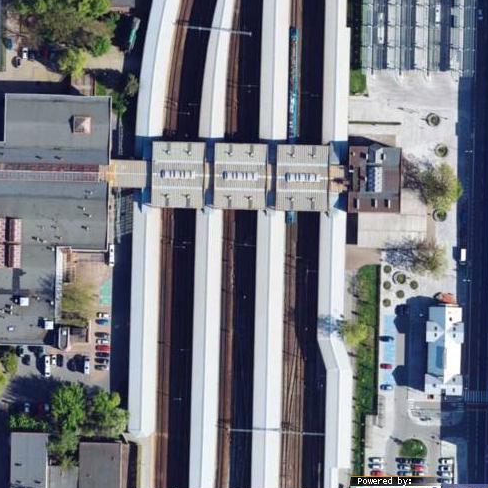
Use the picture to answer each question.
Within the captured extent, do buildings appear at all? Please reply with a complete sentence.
Yes, the picture does show a building.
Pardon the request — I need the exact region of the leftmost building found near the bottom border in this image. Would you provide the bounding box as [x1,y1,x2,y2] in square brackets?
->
[10,433,48,488]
